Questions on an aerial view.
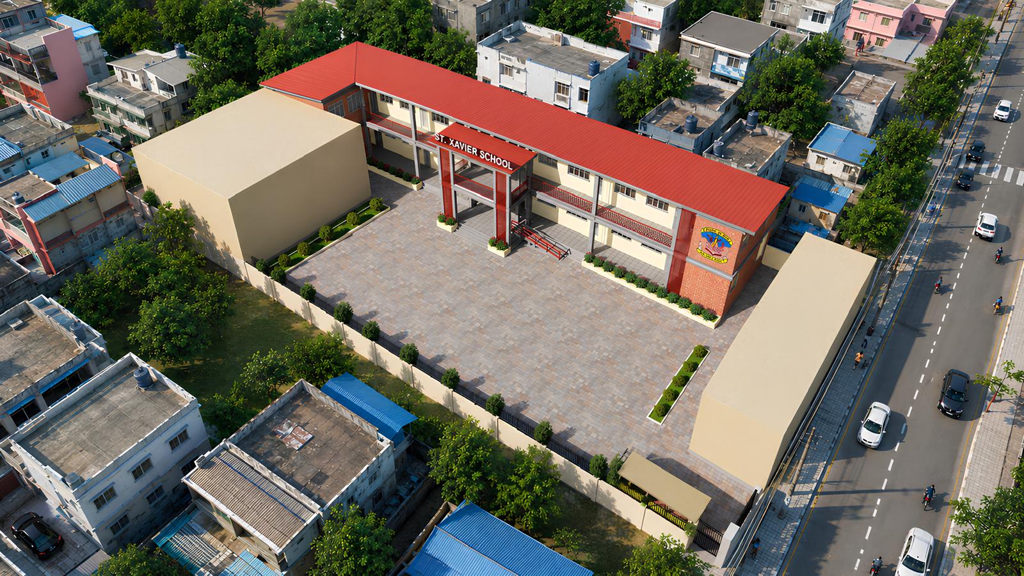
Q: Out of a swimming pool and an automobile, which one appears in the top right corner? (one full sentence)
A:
Looking in the top right corner, you will find an automobile.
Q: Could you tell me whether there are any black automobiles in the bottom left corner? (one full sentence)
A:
Yes, looking in the bottom left corner, one can make out a black automobile.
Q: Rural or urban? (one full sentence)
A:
The land in this view is best described as urban.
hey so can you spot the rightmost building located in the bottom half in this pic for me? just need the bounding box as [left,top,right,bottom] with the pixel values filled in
[685,233,877,485]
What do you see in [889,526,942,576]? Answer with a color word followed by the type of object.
white car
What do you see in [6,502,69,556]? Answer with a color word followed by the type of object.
black car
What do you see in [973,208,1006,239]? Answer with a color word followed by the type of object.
white car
